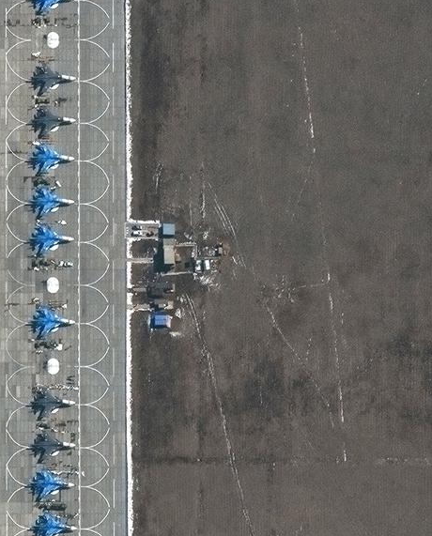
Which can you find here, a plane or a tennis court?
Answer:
plane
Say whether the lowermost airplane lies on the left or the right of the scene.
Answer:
left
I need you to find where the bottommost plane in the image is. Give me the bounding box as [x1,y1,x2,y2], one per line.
[32,514,77,536]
